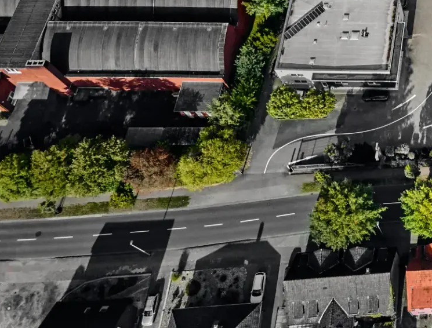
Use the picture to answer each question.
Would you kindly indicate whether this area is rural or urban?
urban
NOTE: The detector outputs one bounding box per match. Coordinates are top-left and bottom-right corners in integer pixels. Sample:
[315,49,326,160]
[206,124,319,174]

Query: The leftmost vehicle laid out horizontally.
[361,89,391,102]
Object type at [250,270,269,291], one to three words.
car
